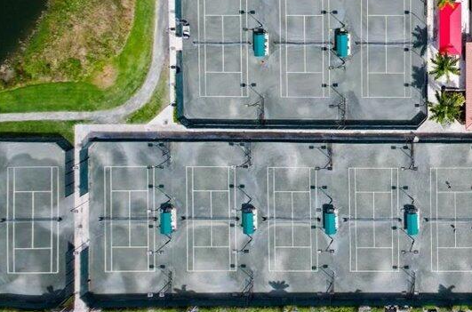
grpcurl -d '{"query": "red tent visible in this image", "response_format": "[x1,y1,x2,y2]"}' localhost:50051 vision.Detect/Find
[439,2,462,54]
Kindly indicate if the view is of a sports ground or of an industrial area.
sports ground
